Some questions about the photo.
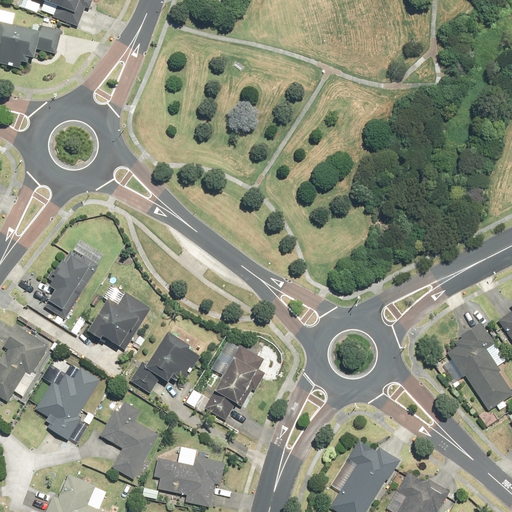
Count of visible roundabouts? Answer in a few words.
two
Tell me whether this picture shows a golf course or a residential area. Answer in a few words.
residential area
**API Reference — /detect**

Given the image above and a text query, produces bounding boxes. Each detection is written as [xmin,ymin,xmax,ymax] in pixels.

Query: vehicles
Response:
[165,384,178,398]
[230,410,246,422]
[37,282,52,293]
[176,378,185,392]
[464,310,475,326]
[35,492,50,502]
[76,332,93,346]
[120,484,131,500]
[214,488,232,497]
[32,500,48,510]
[473,310,486,324]
[18,280,33,292]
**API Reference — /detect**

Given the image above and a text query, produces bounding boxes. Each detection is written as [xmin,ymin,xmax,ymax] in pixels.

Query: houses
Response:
[88,286,150,352]
[42,240,102,320]
[205,342,264,422]
[35,365,100,443]
[49,474,106,512]
[444,322,512,411]
[0,326,48,400]
[331,440,401,512]
[150,446,226,512]
[125,332,200,396]
[25,0,90,28]
[387,474,450,512]
[0,10,62,69]
[101,400,158,480]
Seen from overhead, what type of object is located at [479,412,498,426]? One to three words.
gazebo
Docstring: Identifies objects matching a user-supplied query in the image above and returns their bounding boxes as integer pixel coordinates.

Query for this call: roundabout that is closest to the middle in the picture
[296,294,411,410]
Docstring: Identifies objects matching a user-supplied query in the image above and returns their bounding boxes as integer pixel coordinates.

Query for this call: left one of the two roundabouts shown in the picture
[16,84,142,208]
